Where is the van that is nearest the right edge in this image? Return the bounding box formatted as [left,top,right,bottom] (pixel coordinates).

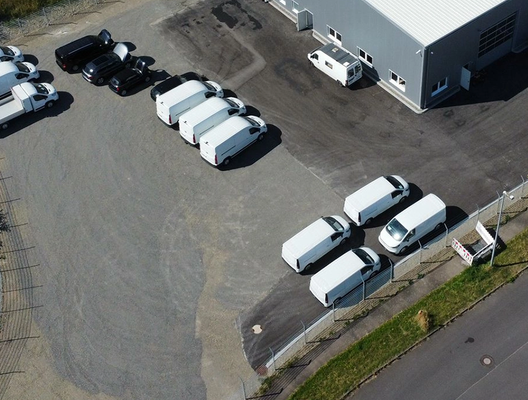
[378,188,450,255]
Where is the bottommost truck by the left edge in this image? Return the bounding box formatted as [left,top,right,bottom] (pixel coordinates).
[0,80,59,130]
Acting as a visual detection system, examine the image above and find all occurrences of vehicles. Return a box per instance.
[0,80,59,130]
[179,94,247,146]
[51,24,115,72]
[306,245,383,308]
[155,65,207,96]
[157,78,224,128]
[313,41,366,86]
[81,39,136,85]
[198,112,267,166]
[378,188,450,255]
[0,58,41,96]
[341,175,411,230]
[103,59,151,97]
[0,42,26,61]
[280,213,353,275]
